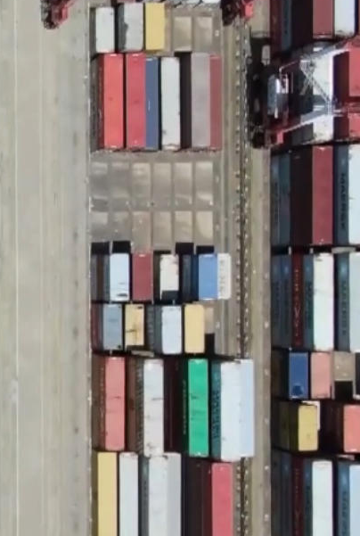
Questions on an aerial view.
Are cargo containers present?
Yes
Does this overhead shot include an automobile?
No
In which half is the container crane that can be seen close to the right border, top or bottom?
top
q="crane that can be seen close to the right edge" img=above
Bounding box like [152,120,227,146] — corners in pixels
[251,30,360,153]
